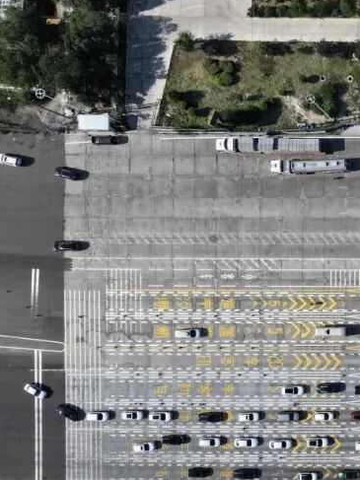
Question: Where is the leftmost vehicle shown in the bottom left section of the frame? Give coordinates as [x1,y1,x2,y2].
[25,382,49,399]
